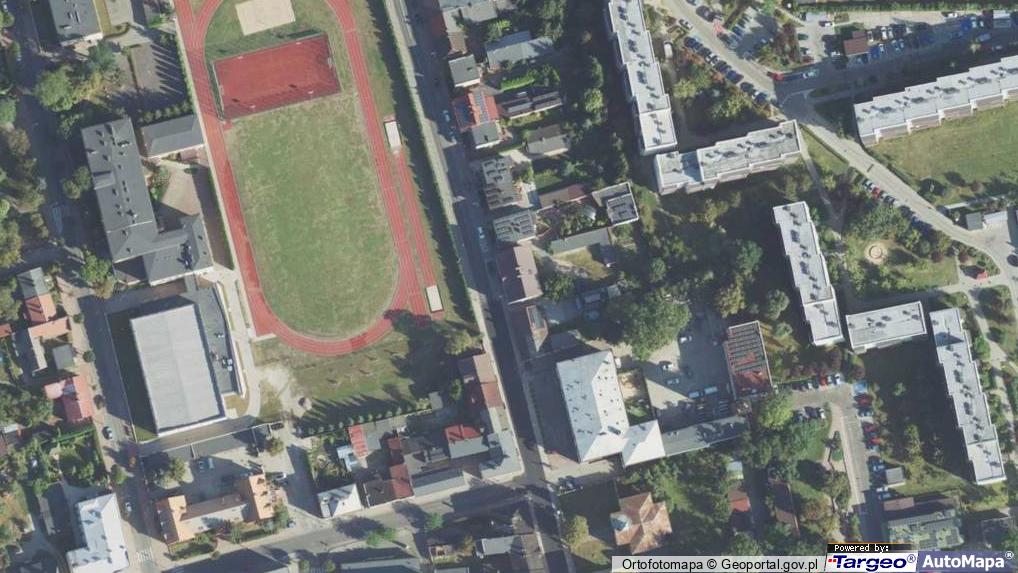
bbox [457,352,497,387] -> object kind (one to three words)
house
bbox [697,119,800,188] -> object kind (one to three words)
building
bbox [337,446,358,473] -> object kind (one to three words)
shed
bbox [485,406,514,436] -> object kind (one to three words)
house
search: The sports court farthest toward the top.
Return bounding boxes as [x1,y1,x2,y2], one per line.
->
[236,0,295,35]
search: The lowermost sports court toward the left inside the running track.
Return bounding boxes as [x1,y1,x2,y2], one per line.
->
[215,34,341,133]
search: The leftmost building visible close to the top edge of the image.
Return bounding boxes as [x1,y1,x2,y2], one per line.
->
[51,0,105,48]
